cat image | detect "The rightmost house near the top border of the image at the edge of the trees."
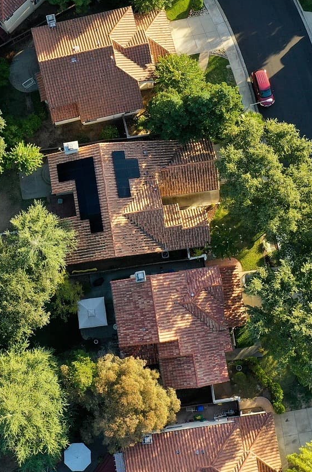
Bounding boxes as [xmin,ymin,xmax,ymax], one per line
[33,7,176,131]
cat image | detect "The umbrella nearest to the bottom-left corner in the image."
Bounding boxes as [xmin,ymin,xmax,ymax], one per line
[64,443,91,471]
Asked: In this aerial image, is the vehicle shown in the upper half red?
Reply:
Yes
